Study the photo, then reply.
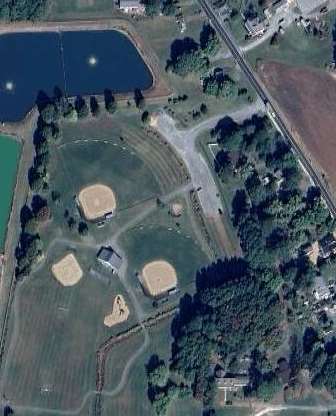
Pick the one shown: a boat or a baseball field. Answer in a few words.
baseball field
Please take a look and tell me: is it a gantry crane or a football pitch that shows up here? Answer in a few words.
football pitch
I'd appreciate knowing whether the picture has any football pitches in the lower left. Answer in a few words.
Yes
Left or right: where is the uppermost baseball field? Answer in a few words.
left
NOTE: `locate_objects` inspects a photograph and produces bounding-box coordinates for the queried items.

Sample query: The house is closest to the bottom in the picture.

[215,377,248,391]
